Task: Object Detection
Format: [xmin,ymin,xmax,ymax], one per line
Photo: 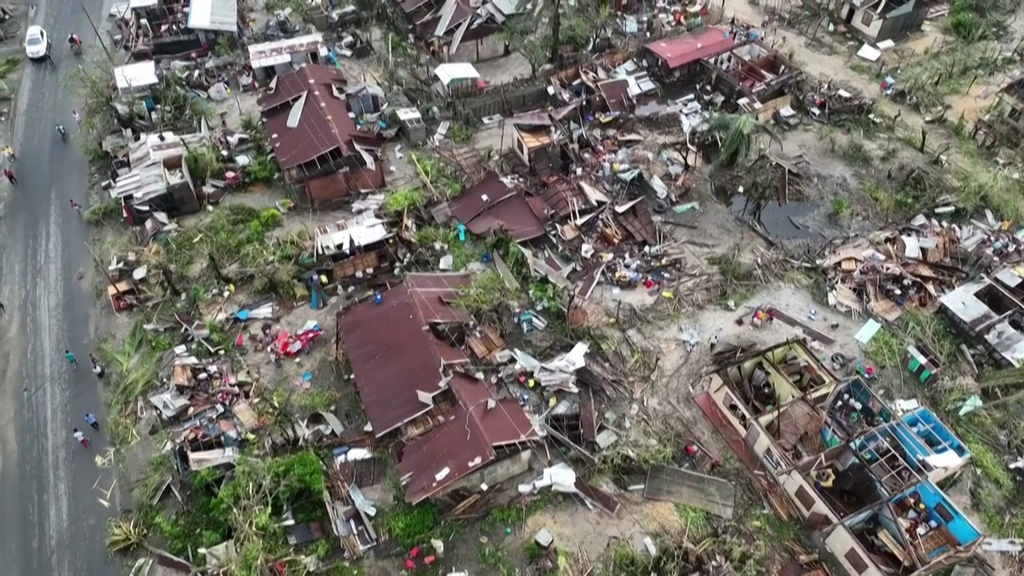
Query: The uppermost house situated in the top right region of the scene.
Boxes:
[830,0,926,47]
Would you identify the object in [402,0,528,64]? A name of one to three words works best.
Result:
house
